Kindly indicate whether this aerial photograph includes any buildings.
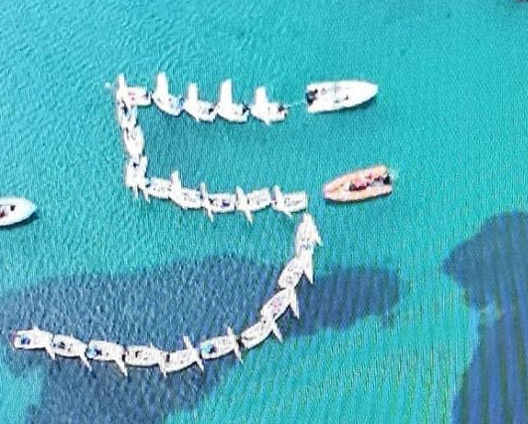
No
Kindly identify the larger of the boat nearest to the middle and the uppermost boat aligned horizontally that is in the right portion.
the uppermost boat aligned horizontally that is in the right portion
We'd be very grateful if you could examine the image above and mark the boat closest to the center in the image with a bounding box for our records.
[238,187,273,229]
